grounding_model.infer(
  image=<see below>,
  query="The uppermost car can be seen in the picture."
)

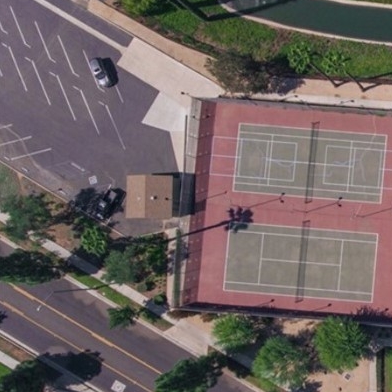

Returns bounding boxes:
[86,56,111,88]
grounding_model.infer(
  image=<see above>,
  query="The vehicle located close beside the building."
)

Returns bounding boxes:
[88,186,117,221]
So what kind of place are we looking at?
sports ground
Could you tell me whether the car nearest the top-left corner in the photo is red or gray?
gray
